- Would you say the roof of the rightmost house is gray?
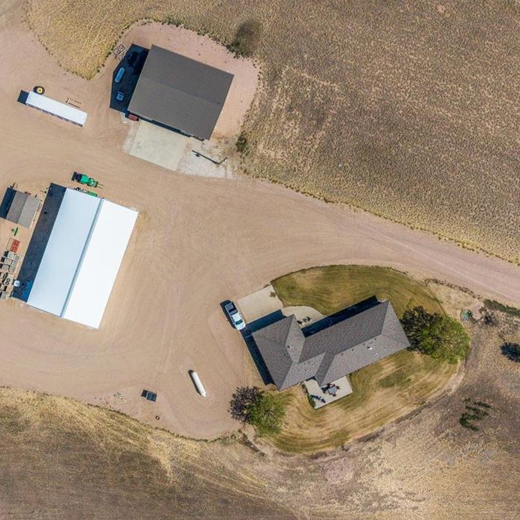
Yes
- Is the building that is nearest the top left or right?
left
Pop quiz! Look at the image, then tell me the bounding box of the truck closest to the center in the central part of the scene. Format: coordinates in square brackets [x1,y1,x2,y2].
[223,299,245,330]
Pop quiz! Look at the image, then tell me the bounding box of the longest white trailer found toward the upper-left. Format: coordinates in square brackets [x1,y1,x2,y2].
[26,92,87,127]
